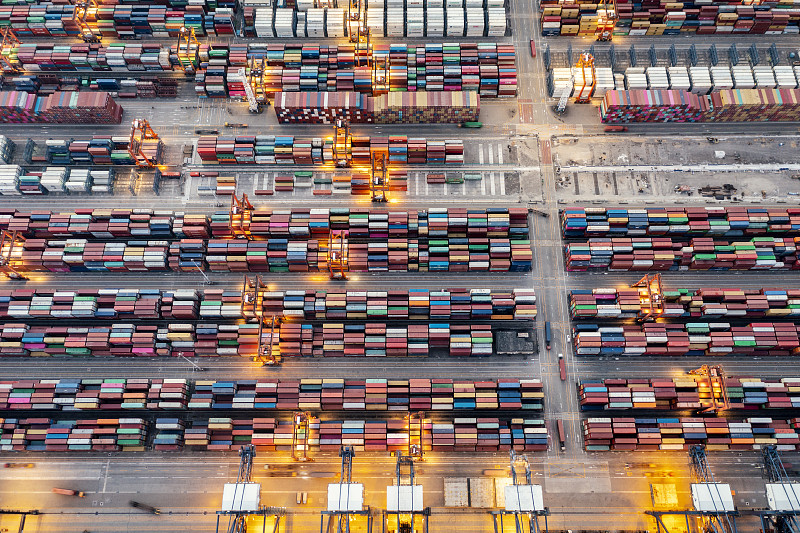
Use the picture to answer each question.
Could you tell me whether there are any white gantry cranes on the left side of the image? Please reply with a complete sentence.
Yes, looking on the left side of the image, one can make out a white gantry crane.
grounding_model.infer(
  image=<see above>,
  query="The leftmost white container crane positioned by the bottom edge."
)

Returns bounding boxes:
[216,449,290,533]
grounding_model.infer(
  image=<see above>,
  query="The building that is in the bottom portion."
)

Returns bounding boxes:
[493,334,532,358]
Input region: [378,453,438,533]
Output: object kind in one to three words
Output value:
container crane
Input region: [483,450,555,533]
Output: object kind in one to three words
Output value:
container crane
